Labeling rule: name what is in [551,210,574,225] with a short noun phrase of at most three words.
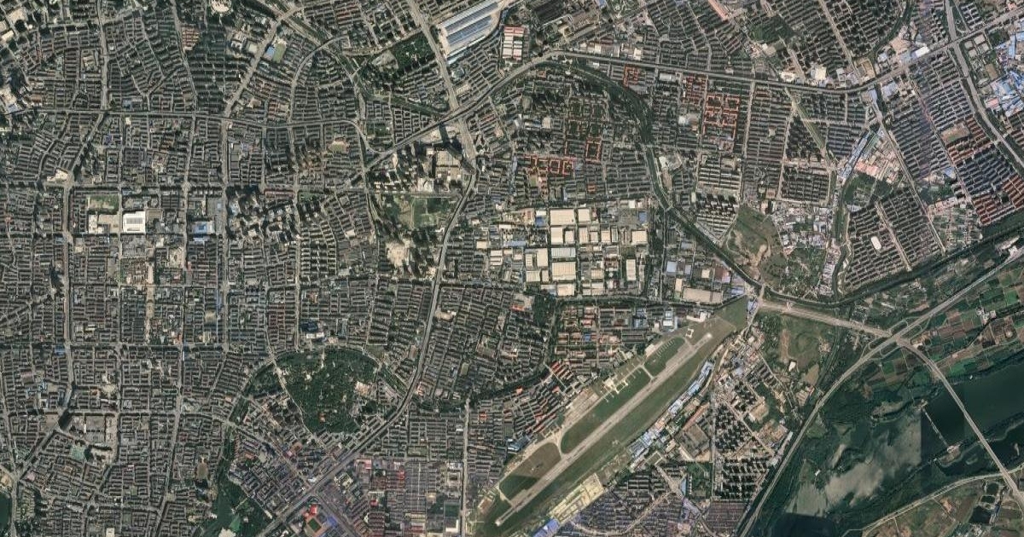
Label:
building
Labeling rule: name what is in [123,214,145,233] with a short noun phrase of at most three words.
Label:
building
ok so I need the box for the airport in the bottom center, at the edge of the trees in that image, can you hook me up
[471,296,749,537]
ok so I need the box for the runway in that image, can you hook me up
[496,332,712,525]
